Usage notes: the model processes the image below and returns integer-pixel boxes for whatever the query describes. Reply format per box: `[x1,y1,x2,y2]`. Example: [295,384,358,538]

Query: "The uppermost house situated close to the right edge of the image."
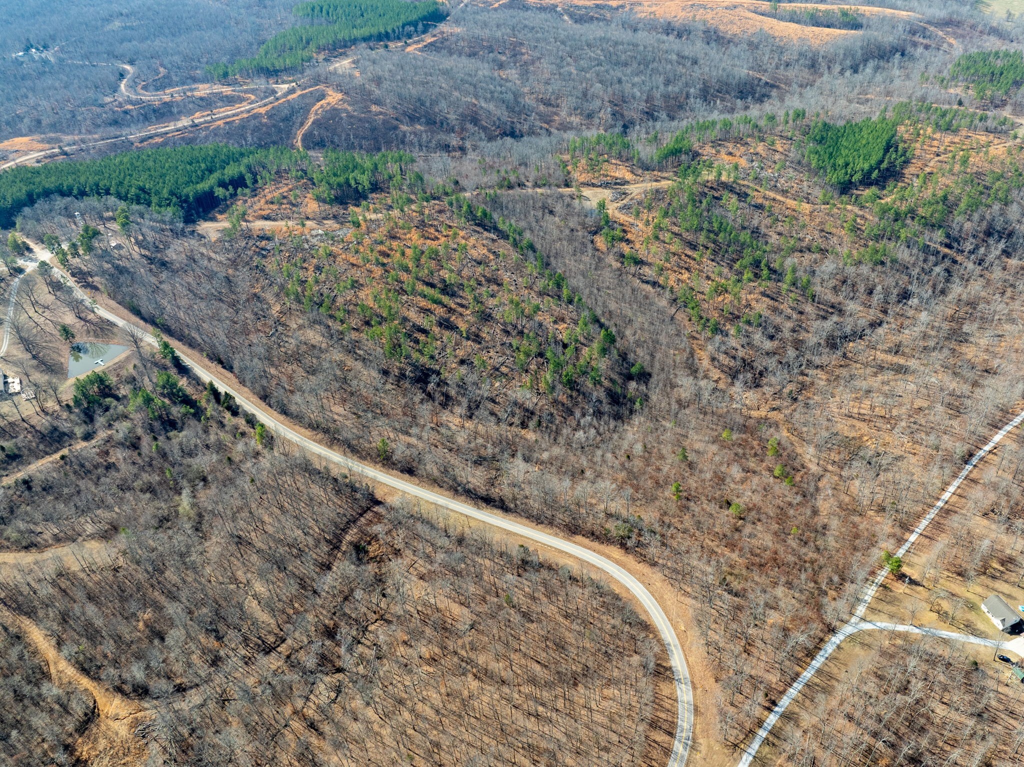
[980,598,1024,631]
